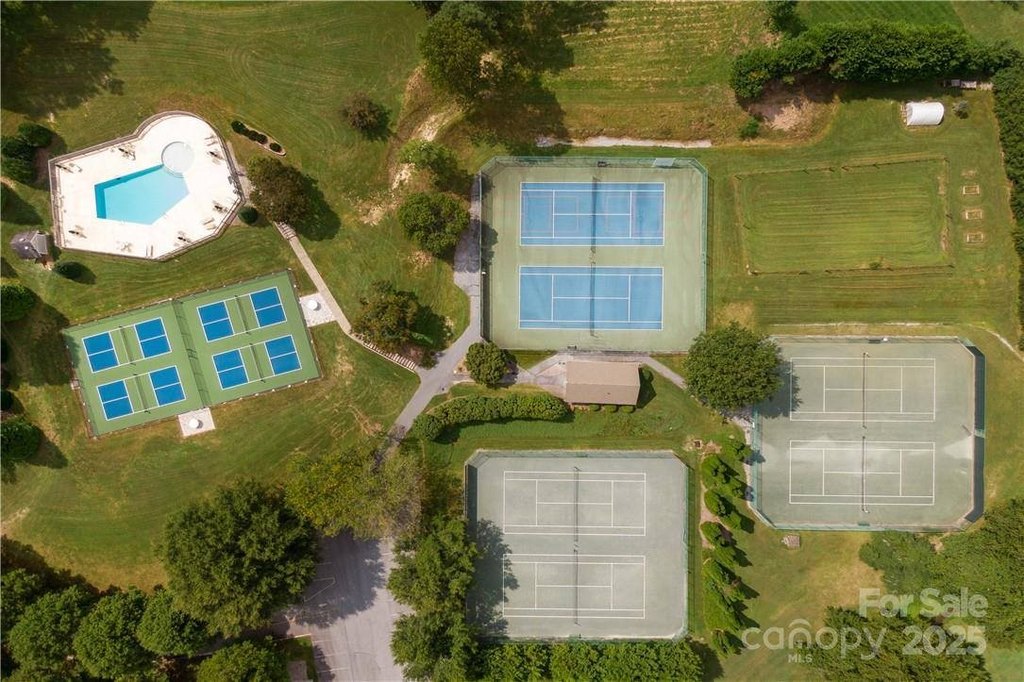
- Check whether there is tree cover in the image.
Yes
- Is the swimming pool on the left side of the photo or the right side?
left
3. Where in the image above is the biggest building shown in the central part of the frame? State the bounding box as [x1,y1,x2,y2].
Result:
[566,360,641,406]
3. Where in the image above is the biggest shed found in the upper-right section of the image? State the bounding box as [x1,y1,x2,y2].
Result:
[905,102,944,126]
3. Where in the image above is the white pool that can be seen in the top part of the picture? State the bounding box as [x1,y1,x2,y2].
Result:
[52,111,251,264]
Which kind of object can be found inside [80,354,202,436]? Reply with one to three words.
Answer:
sports court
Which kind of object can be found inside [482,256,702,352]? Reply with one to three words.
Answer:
tennis court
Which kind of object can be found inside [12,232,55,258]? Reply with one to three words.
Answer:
building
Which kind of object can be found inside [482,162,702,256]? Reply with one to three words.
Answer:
tennis court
